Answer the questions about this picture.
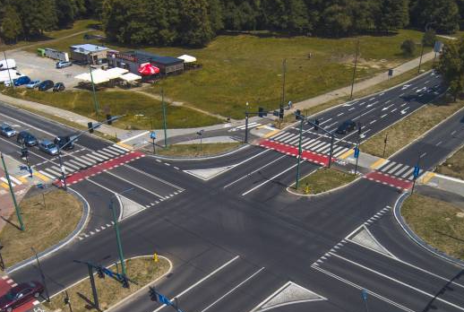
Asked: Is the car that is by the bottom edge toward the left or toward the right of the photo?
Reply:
left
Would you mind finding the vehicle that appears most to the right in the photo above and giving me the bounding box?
[335,118,359,134]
